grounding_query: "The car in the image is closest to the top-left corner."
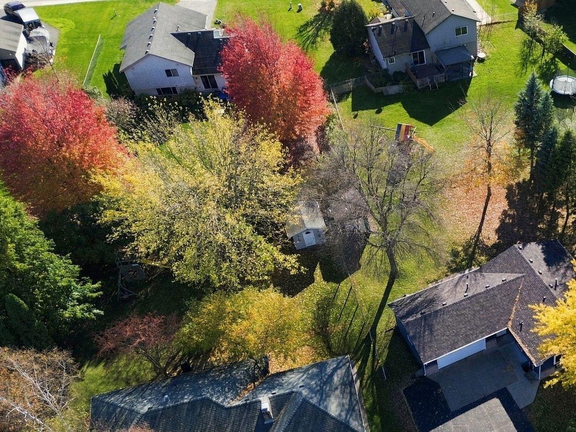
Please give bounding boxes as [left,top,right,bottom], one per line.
[2,3,27,22]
